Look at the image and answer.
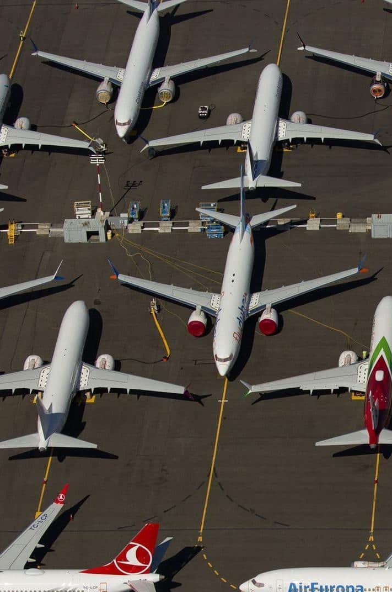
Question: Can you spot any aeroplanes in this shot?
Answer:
Yes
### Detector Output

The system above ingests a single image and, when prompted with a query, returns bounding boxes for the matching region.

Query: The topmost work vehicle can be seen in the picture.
[198,105,210,119]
